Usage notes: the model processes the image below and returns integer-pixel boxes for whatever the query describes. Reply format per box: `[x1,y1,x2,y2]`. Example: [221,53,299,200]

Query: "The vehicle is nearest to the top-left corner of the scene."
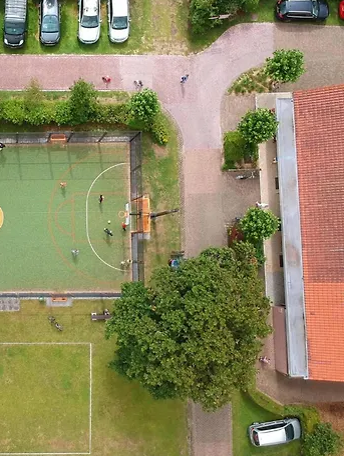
[3,0,28,49]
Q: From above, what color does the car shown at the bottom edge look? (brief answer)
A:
white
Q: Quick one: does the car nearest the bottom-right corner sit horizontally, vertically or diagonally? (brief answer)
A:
horizontally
